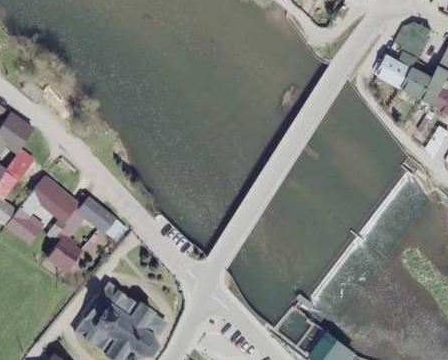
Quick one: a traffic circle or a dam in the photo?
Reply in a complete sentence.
The image shows a dam.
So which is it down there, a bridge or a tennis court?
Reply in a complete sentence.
The one in the frame is a bridge.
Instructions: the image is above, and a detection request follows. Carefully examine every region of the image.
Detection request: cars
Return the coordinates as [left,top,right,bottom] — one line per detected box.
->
[231,330,239,341]
[222,322,230,333]
[236,336,244,346]
[163,224,171,236]
[169,229,177,240]
[176,234,184,244]
[241,339,249,351]
[182,242,191,253]
[247,344,255,355]
[426,45,434,55]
